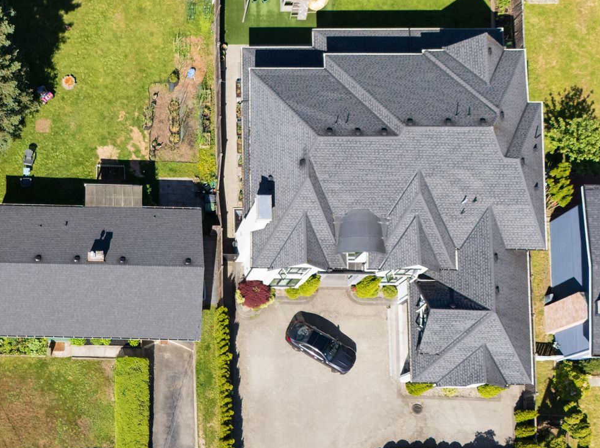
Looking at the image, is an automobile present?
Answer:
Yes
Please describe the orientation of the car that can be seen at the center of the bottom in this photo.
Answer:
at an angle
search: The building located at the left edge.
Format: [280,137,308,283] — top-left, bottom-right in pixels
[0,202,205,344]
